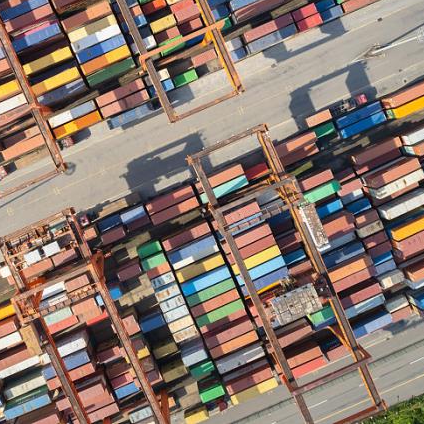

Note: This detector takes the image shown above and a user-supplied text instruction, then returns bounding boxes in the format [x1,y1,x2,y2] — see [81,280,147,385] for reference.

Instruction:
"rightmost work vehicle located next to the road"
[346,92,370,109]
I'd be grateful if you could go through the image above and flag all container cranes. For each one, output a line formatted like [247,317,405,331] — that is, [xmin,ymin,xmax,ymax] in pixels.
[0,18,67,198]
[114,0,246,125]
[0,207,183,424]
[187,126,387,424]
